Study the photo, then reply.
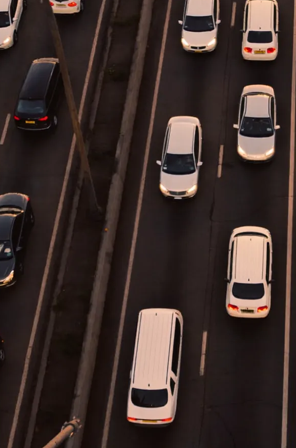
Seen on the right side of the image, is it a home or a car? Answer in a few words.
car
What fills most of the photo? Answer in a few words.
paved ground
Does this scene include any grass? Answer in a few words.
No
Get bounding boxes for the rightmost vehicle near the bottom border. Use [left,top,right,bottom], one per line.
[122,313,184,427]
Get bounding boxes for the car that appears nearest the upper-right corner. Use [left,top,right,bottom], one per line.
[238,0,281,61]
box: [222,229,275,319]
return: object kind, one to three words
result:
car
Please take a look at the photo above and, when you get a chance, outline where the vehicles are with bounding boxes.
[178,0,220,52]
[0,195,32,287]
[9,61,63,130]
[233,87,279,163]
[48,0,84,14]
[0,0,27,50]
[156,120,203,199]
[238,0,281,61]
[122,313,184,427]
[222,229,275,319]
